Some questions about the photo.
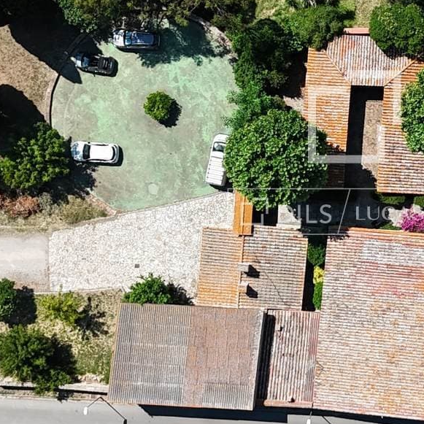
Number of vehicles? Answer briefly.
four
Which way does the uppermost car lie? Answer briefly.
from left to right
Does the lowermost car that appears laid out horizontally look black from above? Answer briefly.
No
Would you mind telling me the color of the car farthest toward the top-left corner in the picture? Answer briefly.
black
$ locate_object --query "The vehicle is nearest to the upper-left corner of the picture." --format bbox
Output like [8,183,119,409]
[74,51,119,79]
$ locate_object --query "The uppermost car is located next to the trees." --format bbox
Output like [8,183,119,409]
[113,30,158,54]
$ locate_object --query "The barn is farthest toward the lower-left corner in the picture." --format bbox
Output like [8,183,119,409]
[108,296,269,410]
